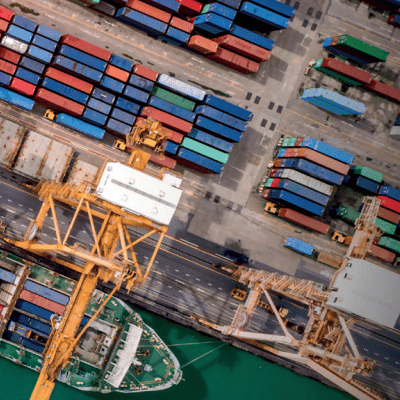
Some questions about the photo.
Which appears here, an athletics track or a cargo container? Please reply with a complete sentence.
It is a cargo container that can be seen here.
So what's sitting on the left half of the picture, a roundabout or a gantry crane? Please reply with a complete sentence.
You can see a gantry crane on the left half of the picture.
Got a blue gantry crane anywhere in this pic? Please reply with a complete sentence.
No, the photo shows no blue gantry crane.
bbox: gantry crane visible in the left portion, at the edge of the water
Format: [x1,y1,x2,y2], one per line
[0,113,181,400]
